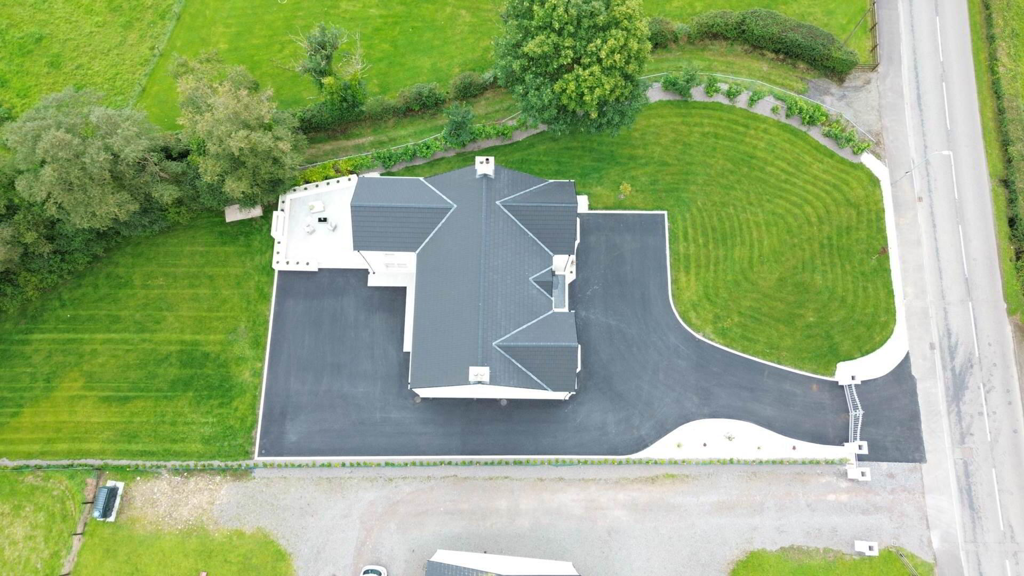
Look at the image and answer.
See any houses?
Yes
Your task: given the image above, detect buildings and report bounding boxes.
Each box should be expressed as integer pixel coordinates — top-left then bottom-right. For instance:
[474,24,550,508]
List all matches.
[350,156,582,398]
[423,551,582,576]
